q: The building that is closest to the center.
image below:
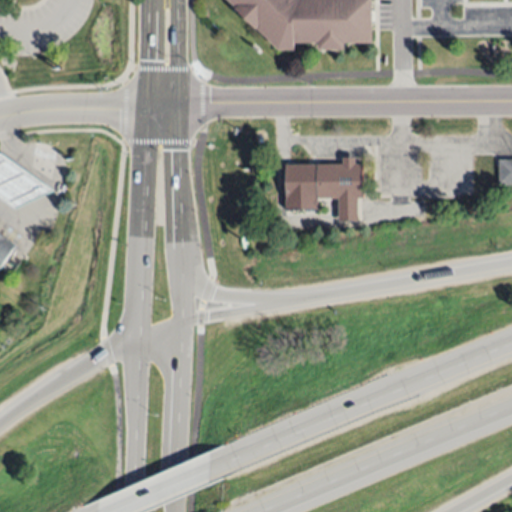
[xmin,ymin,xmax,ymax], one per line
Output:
[285,158,362,221]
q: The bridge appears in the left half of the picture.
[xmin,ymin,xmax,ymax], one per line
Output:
[86,449,212,512]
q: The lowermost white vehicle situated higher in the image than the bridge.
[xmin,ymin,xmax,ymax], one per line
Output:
[89,350,108,364]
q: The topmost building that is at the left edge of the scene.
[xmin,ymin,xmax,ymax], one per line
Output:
[0,152,54,209]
